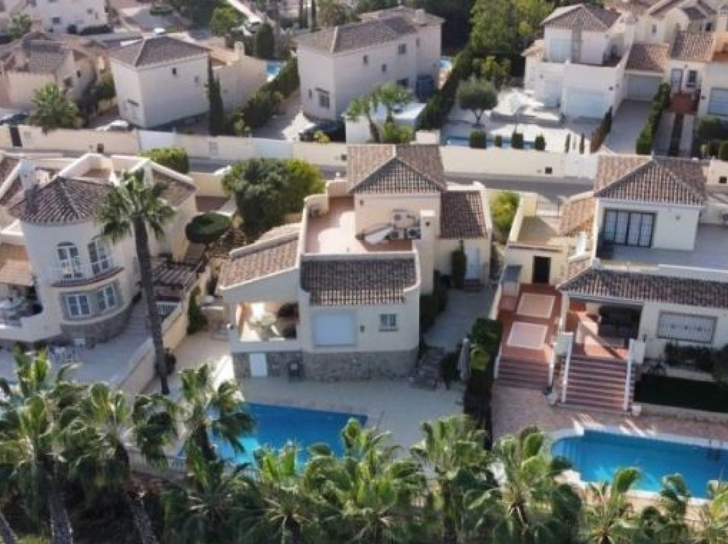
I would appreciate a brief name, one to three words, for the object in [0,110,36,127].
car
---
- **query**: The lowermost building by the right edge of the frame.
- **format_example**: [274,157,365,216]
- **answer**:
[509,154,728,354]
